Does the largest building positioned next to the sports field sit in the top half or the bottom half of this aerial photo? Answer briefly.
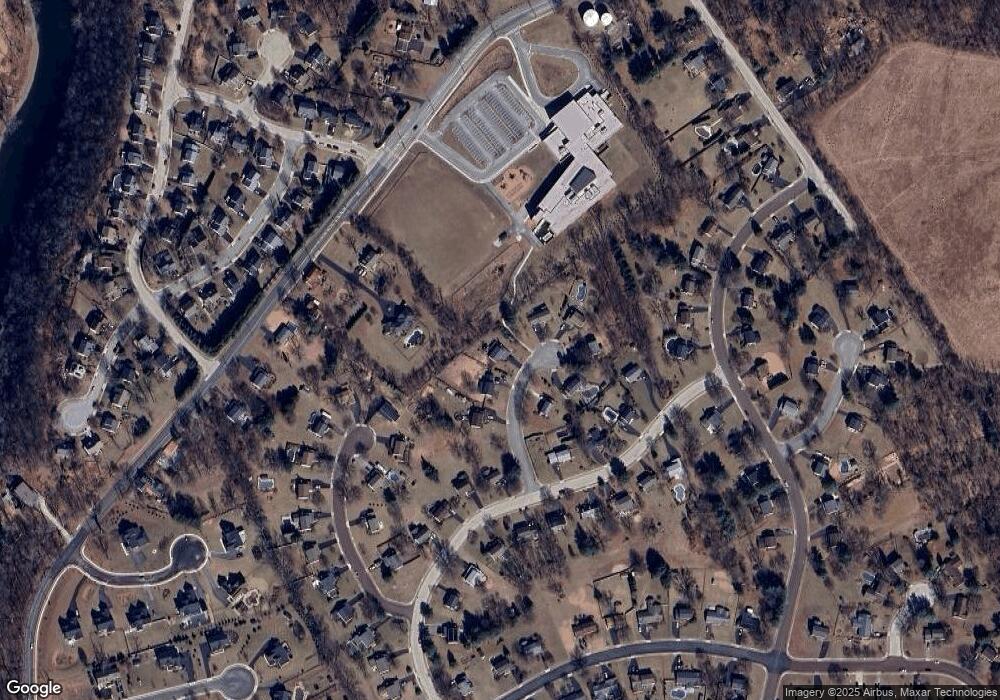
top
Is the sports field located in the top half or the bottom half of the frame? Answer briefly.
top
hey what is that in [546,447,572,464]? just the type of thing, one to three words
house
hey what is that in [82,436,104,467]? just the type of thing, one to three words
house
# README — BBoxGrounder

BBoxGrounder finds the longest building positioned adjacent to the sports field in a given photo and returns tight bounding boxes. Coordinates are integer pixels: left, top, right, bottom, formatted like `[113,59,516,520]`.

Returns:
[533,92,623,245]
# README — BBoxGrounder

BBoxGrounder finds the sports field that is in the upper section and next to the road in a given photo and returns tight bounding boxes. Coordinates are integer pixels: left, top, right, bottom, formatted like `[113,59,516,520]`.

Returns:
[372,146,512,289]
